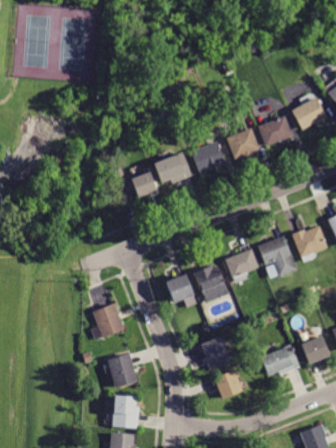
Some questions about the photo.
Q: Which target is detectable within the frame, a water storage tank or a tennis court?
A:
tennis court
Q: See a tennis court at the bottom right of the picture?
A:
No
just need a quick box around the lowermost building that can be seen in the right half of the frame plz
[300,424,330,448]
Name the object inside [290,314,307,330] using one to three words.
swimming pool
